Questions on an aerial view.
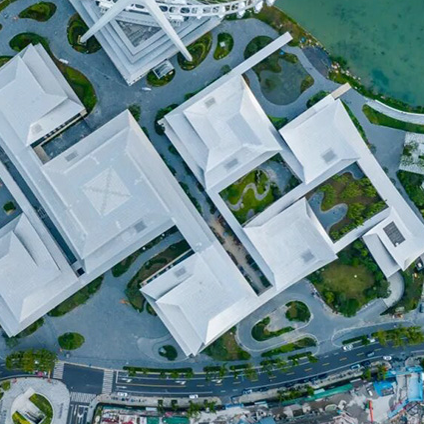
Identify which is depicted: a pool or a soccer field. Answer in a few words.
pool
